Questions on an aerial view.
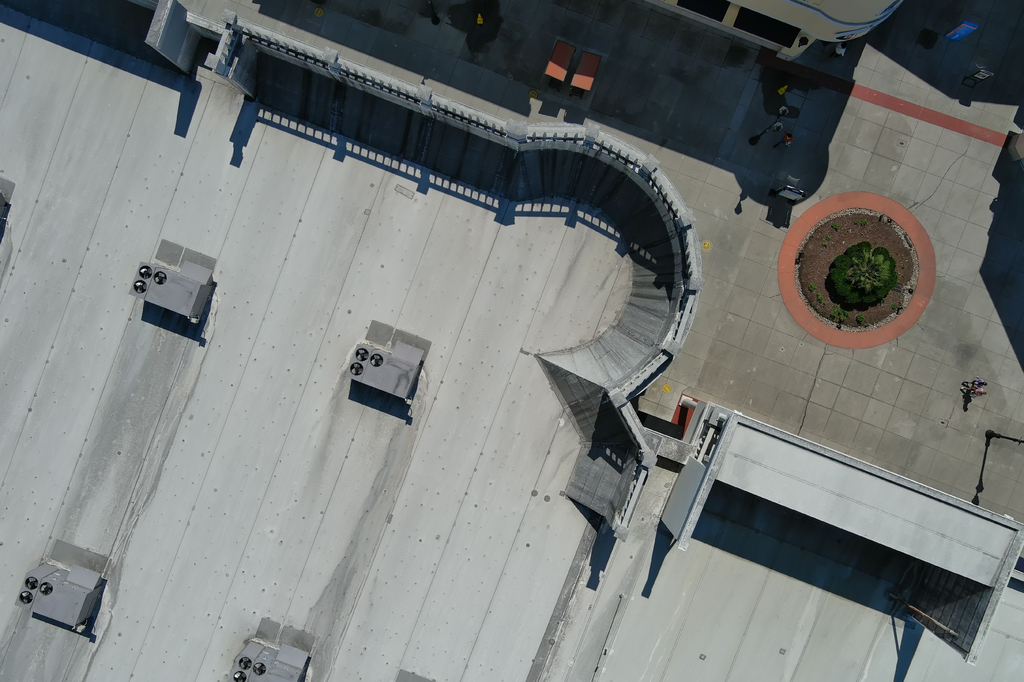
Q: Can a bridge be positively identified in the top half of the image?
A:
No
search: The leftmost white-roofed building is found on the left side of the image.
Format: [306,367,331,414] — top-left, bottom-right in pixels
[0,0,701,682]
